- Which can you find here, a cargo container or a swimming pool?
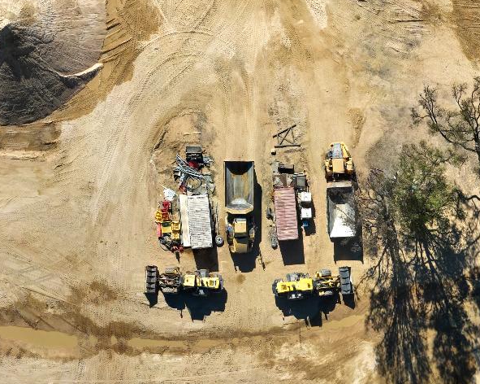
cargo container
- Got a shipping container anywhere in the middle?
Yes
